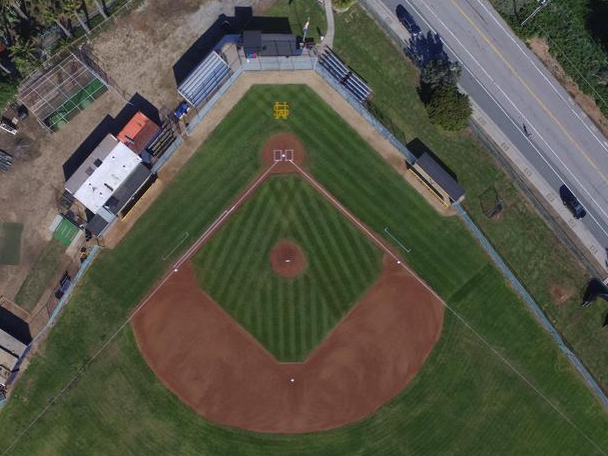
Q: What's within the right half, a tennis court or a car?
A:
car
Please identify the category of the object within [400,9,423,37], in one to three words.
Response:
car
